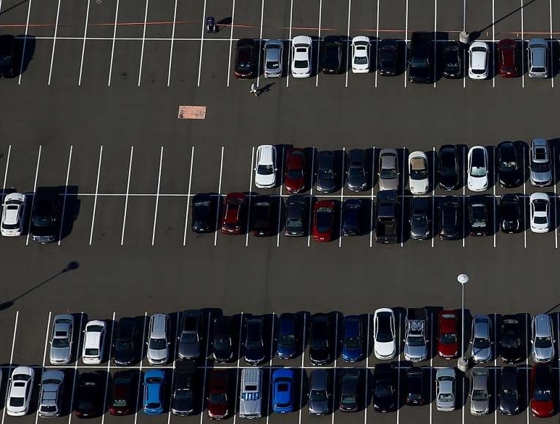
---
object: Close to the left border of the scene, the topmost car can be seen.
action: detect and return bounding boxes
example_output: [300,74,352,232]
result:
[0,32,18,77]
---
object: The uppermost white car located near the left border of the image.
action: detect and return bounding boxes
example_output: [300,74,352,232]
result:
[0,191,27,236]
